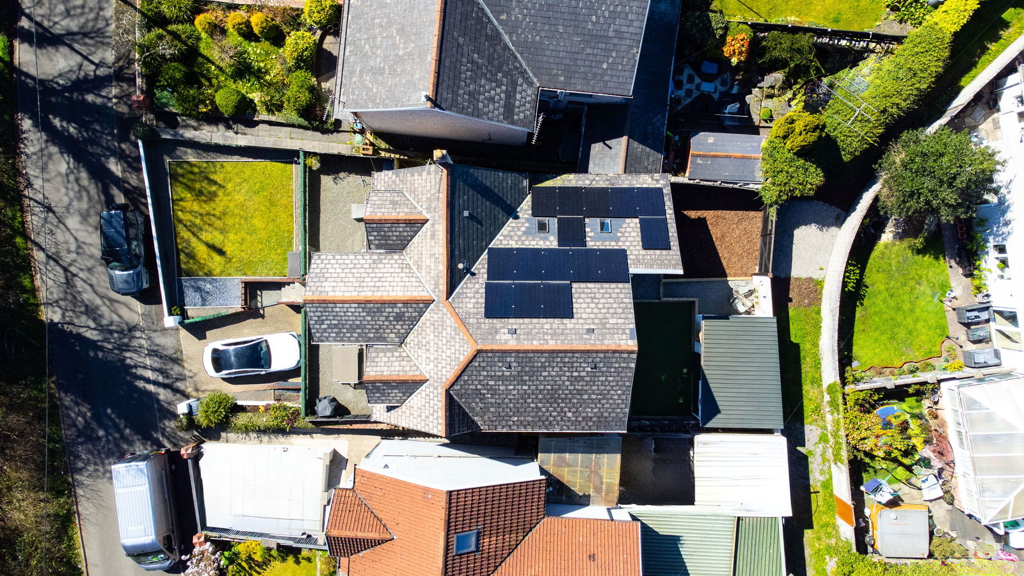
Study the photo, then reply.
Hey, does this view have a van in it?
Yes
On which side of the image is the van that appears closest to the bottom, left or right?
left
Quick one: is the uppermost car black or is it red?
black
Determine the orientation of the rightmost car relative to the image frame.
from left to right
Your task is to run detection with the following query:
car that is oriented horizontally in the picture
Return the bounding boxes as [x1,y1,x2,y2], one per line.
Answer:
[203,330,300,376]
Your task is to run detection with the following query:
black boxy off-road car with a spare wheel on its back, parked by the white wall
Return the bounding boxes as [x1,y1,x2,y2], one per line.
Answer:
[99,202,162,296]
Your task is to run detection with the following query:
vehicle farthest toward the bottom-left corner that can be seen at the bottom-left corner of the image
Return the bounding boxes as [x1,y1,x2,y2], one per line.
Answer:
[113,453,184,566]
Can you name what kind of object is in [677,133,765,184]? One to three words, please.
shed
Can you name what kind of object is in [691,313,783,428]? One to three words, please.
shed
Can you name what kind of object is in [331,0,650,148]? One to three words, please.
house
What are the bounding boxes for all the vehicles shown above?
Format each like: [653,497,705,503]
[203,330,300,376]
[99,202,162,296]
[113,453,184,566]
